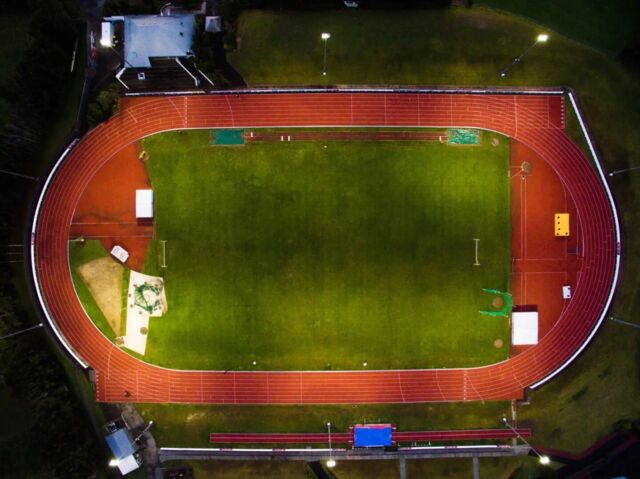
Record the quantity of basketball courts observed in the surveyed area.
0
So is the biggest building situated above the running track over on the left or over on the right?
left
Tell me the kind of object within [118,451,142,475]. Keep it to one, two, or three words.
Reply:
shed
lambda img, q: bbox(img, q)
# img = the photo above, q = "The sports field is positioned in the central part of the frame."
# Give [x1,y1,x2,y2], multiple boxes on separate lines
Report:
[69,127,583,371]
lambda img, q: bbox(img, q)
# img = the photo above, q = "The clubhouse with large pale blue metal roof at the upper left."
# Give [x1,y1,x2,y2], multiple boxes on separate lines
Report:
[124,14,197,69]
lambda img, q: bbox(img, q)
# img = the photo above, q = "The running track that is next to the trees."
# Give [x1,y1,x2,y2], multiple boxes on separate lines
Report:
[36,93,615,405]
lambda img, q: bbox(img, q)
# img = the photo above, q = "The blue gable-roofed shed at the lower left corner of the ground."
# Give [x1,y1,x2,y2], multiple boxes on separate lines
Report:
[105,426,138,460]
